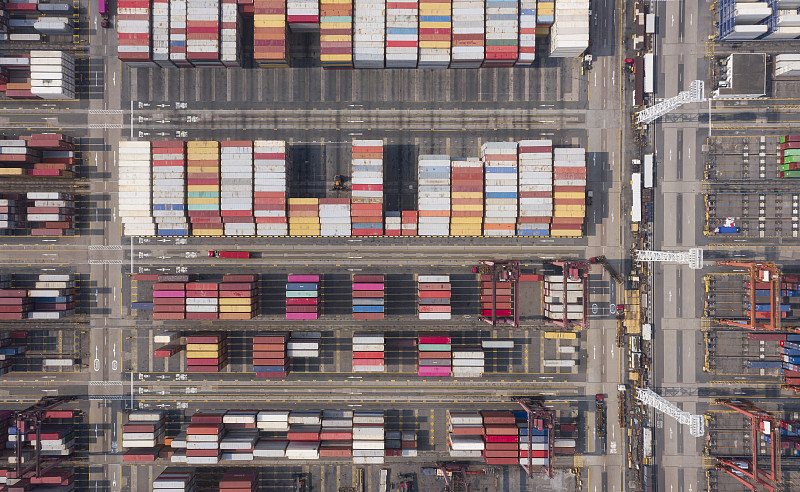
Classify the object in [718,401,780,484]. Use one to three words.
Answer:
container crane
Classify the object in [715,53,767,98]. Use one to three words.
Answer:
building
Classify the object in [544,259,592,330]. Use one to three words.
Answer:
container crane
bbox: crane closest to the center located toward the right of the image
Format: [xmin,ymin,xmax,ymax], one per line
[479,259,523,330]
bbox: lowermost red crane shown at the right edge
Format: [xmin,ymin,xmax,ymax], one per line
[718,467,781,492]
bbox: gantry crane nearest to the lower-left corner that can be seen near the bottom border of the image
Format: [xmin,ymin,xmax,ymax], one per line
[16,398,77,487]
